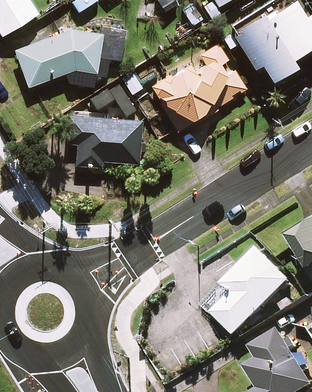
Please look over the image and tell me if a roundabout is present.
Yes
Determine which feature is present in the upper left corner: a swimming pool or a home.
home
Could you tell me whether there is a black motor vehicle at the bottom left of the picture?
Yes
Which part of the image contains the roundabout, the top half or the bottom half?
bottom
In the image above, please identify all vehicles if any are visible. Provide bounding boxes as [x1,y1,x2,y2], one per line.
[202,200,225,218]
[292,121,312,138]
[226,203,246,218]
[182,132,202,156]
[292,86,312,106]
[0,81,8,100]
[2,320,20,344]
[276,312,296,328]
[264,134,286,150]
[239,149,262,168]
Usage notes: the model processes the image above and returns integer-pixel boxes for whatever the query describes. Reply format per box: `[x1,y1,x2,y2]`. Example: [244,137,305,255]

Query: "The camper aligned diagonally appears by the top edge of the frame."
[182,4,204,27]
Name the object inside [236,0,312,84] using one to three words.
house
